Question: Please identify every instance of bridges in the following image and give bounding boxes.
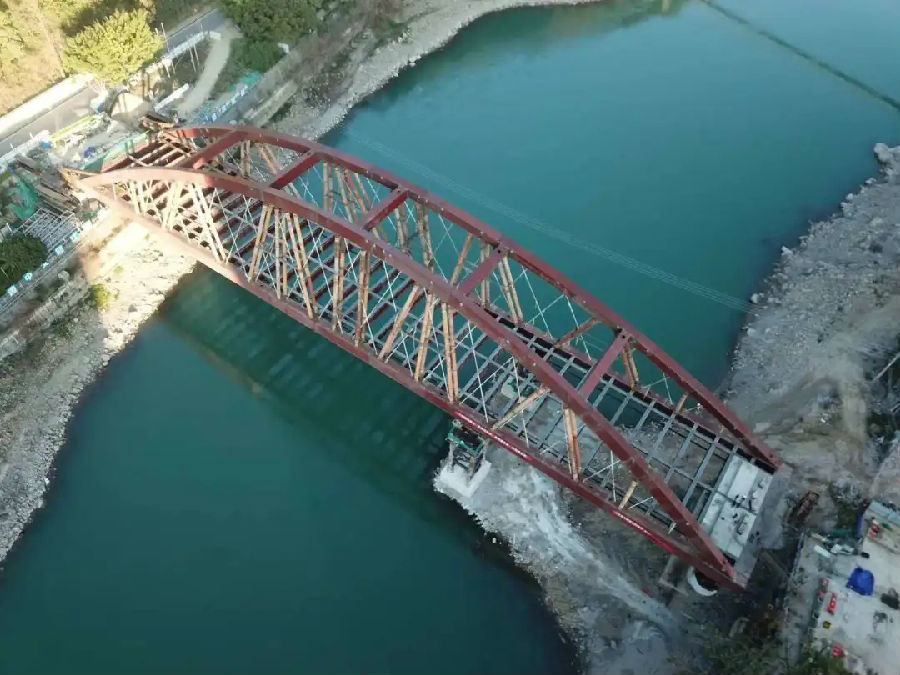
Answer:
[74,120,788,592]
